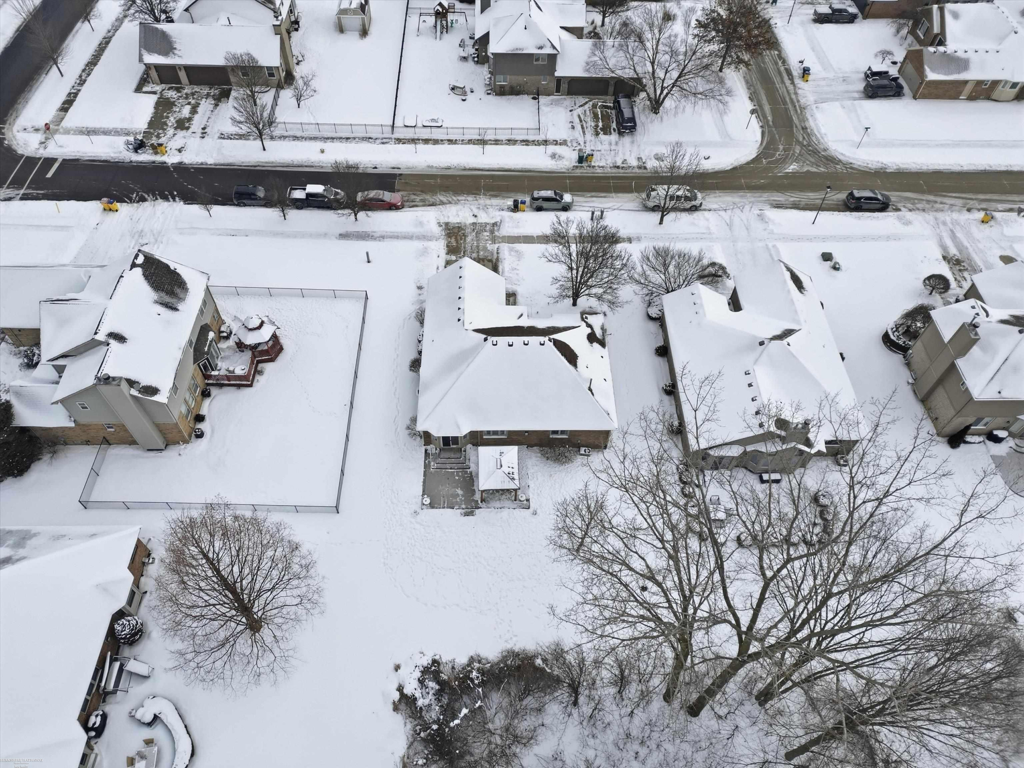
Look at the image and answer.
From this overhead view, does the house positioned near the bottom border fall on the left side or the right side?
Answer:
left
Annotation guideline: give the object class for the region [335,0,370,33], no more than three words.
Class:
shed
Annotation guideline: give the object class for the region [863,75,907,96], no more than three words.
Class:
car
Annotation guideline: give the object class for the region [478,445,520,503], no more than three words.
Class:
gazebo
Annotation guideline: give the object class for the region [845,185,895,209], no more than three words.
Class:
car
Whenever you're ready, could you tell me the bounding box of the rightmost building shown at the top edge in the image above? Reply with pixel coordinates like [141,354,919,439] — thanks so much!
[902,0,1024,103]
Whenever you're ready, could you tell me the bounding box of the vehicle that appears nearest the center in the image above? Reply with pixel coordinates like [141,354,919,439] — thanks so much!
[528,186,575,211]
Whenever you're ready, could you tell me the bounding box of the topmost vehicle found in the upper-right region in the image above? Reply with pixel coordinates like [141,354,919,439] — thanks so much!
[815,2,862,22]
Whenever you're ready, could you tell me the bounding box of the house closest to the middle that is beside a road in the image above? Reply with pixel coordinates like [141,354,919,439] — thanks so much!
[416,258,619,449]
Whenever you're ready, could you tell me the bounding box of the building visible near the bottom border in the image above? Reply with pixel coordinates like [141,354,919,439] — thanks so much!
[0,525,150,768]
